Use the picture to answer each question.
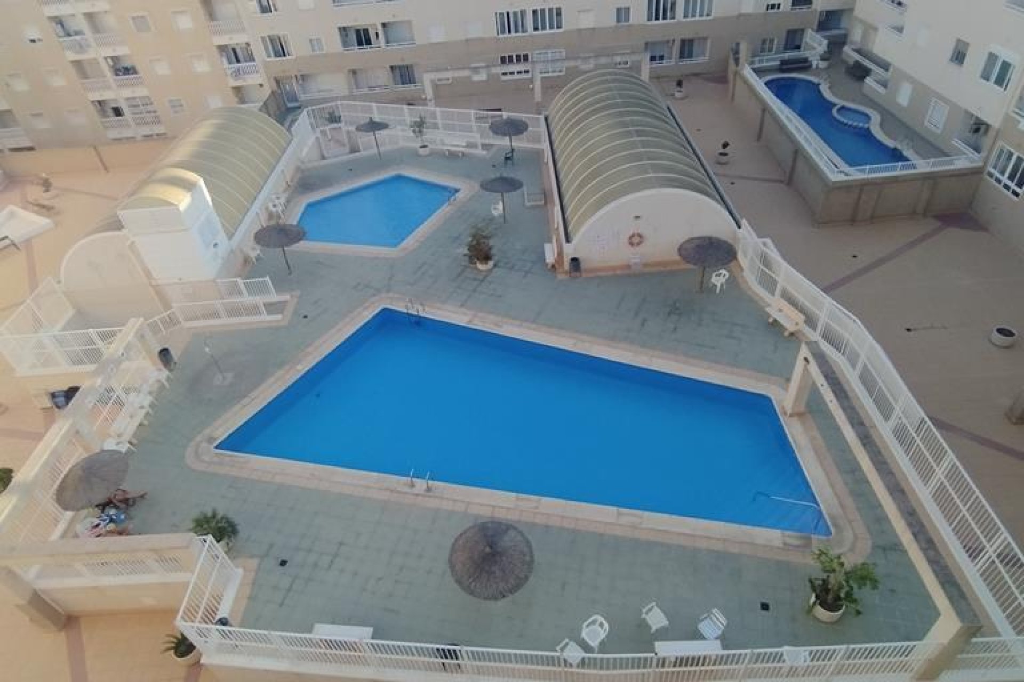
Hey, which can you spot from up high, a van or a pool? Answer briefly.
pool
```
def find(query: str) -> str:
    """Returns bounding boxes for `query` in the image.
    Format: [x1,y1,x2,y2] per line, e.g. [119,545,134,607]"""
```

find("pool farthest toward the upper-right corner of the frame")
[768,75,909,166]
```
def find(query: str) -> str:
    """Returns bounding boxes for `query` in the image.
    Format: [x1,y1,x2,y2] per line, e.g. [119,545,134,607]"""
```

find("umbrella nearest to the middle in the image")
[479,173,524,226]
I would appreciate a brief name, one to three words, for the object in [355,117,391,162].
umbrella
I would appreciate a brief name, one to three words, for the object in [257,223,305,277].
umbrella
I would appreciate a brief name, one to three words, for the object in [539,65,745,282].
building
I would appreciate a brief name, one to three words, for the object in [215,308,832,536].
swimming pool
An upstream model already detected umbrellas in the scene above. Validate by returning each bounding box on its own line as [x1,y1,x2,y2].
[54,454,137,529]
[257,223,305,277]
[677,235,737,298]
[490,118,528,165]
[448,525,535,611]
[355,117,391,162]
[479,173,524,226]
